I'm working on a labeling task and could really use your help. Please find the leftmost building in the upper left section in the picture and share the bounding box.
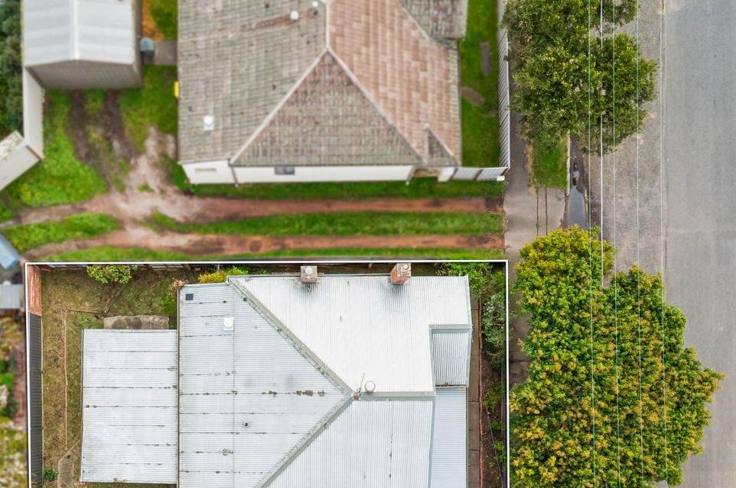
[20,0,146,89]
